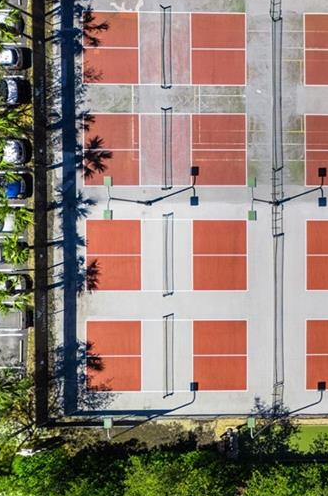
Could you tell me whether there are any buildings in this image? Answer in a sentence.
No, there is no building in the image.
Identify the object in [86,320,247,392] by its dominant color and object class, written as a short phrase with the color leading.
red sports court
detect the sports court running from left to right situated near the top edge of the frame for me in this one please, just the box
[82,12,246,85]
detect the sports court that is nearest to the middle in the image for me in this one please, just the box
[85,220,247,290]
